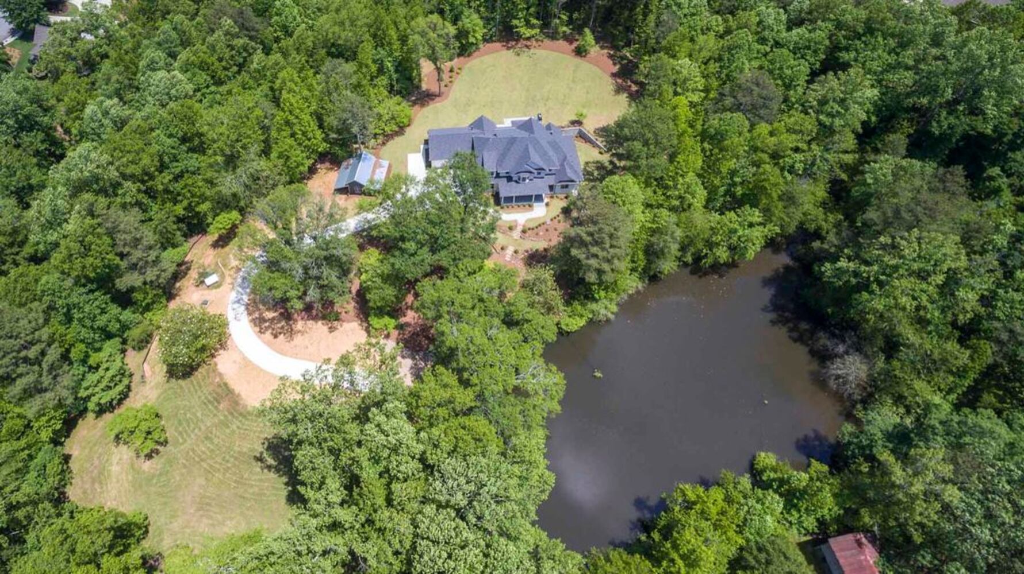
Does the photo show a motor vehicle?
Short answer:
No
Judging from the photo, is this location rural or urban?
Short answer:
rural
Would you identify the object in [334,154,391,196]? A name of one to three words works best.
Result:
shed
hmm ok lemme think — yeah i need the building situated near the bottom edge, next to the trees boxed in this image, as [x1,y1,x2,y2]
[815,528,900,574]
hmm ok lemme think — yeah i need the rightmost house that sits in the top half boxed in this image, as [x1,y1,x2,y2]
[428,109,582,207]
